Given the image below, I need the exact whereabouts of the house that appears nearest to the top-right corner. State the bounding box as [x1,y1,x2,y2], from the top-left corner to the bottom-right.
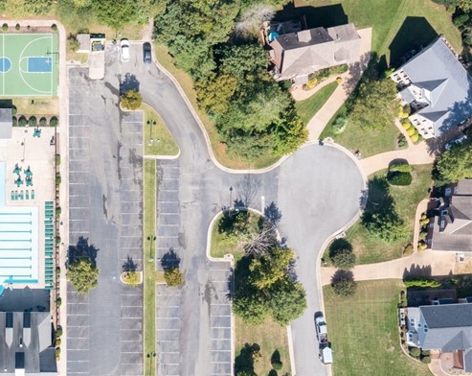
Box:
[390,38,472,144]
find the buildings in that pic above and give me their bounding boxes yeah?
[262,17,361,85]
[399,306,472,376]
[0,108,13,139]
[390,38,472,144]
[417,179,472,249]
[77,32,89,53]
[0,312,57,376]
